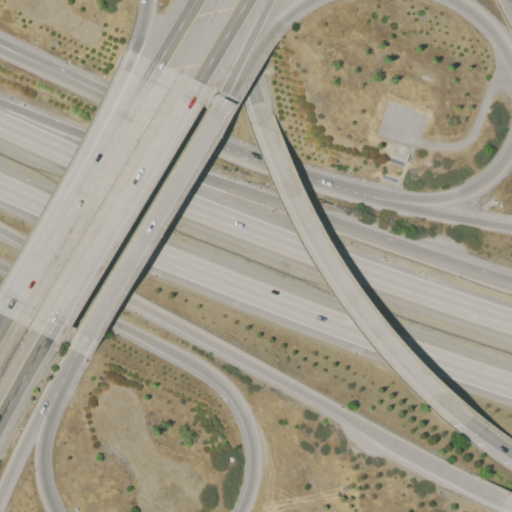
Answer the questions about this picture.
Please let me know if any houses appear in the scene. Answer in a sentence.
No, there's no house here.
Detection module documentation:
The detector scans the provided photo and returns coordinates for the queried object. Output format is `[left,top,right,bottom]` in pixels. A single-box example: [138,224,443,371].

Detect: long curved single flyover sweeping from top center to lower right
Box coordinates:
[246,80,512,472]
